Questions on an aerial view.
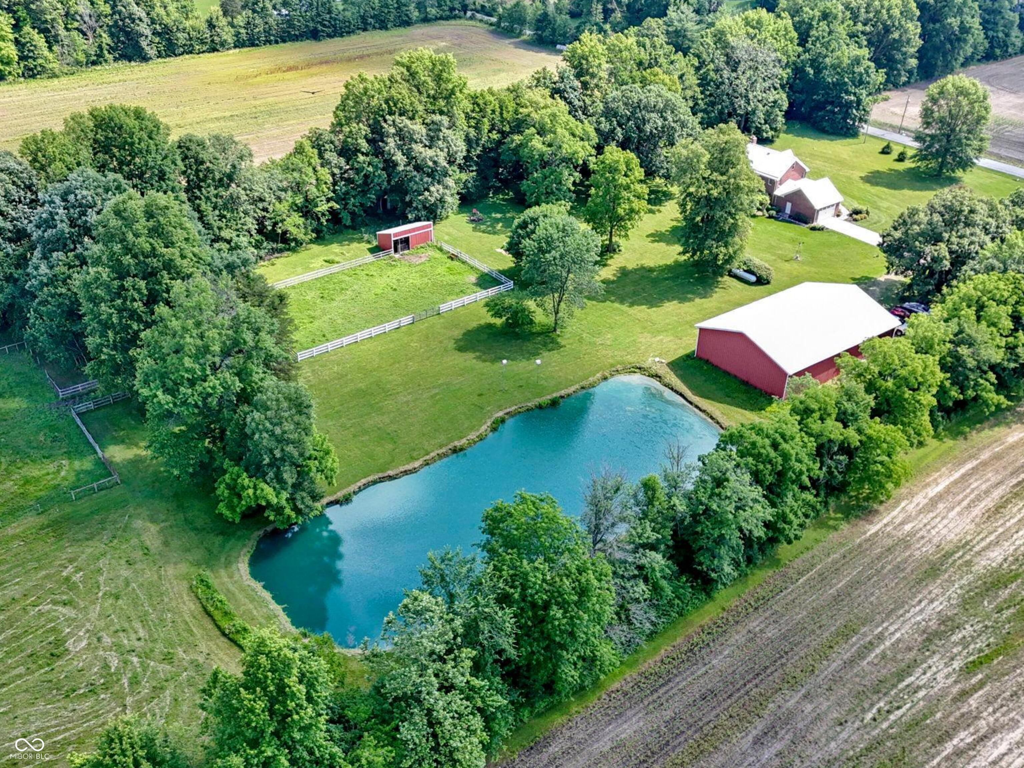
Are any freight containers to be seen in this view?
No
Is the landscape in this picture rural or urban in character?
rural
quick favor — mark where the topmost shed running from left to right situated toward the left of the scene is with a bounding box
[378,220,434,255]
